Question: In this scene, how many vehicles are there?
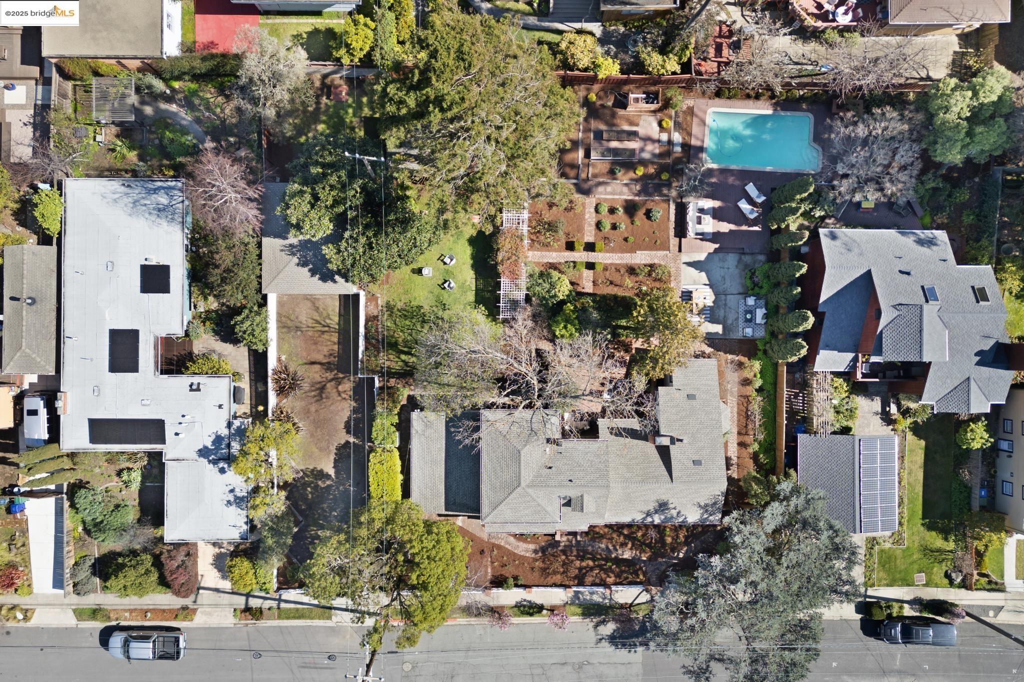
3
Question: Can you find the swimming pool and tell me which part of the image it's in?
top right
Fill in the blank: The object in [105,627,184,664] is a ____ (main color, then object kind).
gray truck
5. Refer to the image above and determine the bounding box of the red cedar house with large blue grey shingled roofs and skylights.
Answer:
[800,228,1024,413]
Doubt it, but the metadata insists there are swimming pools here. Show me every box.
[703,107,822,174]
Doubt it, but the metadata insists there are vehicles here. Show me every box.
[880,616,964,653]
[14,386,57,453]
[105,627,184,664]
